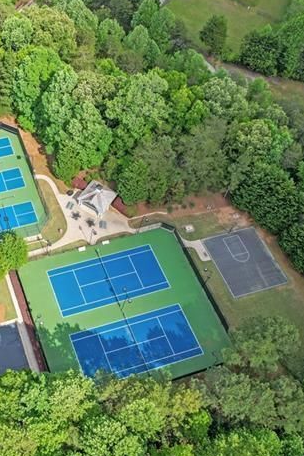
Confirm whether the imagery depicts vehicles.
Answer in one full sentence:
No, I can't see a single vehicle in this photo.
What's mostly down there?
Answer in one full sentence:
For the most part, this view shows trees.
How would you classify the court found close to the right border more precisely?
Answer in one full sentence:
In the photo, the court found close to the right border shows up as a basketball court.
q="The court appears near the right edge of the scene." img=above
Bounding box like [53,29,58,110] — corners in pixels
[203,227,292,299]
